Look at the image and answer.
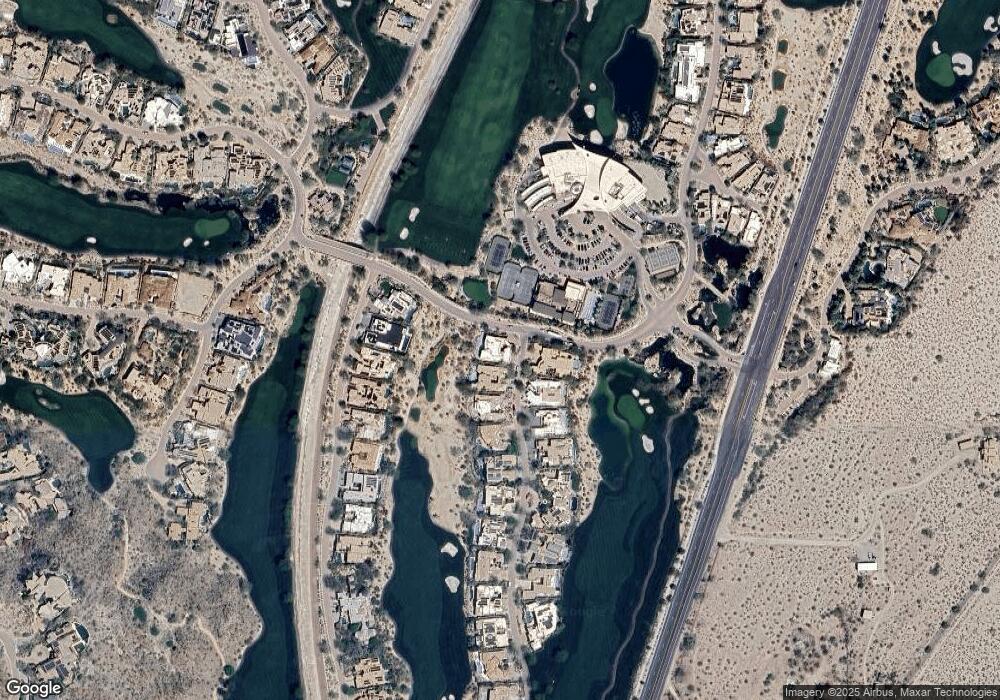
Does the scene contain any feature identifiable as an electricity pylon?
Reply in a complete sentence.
No, the frame has no electricity pylon in it.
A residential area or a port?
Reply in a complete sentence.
This image shows a residential area.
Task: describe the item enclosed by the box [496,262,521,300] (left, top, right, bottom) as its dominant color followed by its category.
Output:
gray tennis court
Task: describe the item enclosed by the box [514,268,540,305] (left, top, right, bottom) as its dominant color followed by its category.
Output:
gray tennis court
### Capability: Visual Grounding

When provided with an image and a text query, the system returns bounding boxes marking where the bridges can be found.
[308,233,380,273]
